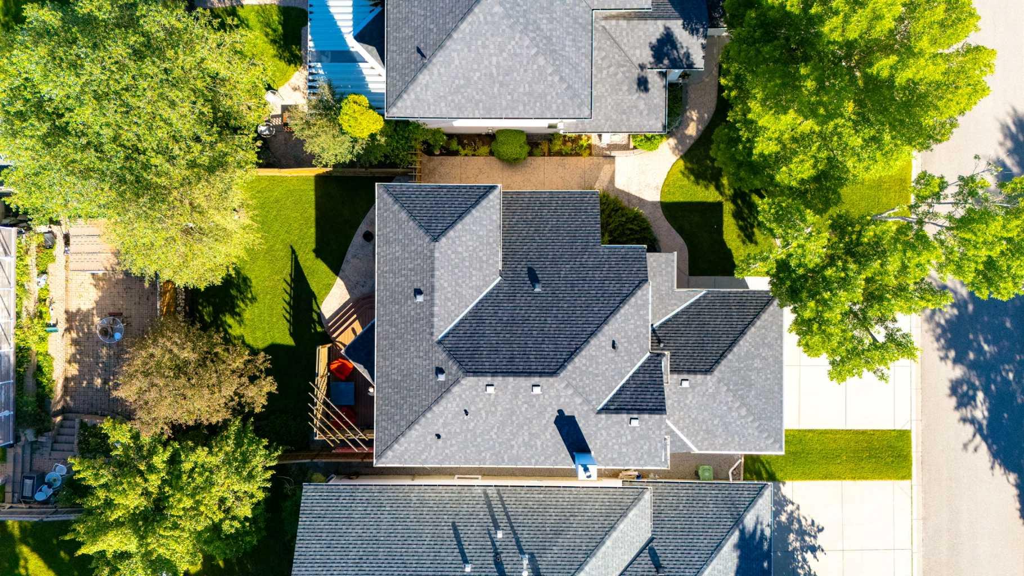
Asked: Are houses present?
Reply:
Yes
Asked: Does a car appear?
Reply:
No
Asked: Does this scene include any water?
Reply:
No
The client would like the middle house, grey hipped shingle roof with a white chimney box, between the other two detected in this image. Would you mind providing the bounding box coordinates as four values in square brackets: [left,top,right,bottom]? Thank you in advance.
[341,182,785,481]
